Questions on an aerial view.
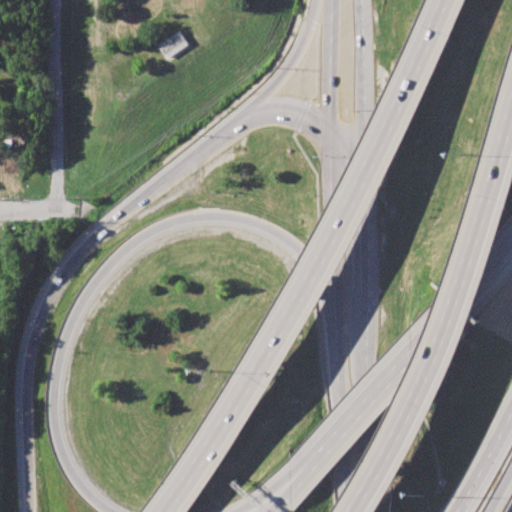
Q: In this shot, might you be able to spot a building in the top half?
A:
Yes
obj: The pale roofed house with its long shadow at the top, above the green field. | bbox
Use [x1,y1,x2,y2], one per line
[158,32,190,66]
